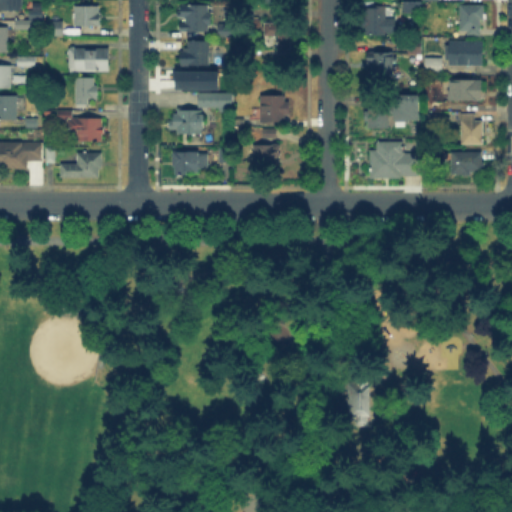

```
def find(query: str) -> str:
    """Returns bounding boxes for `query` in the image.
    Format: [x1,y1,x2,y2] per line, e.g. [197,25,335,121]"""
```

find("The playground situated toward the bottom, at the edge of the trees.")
[420,338,462,370]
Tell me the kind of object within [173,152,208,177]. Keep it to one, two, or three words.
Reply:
house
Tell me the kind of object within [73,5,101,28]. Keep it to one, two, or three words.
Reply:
house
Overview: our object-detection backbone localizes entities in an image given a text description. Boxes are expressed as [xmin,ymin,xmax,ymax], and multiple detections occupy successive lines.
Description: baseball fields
[0,298,109,512]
